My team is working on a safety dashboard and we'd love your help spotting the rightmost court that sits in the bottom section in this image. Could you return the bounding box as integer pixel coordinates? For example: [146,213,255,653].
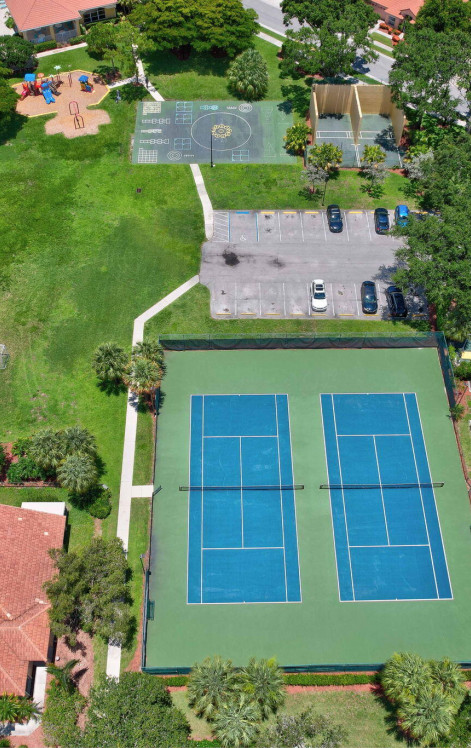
[320,392,453,602]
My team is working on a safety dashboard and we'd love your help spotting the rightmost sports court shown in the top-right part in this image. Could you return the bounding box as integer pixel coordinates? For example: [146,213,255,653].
[310,84,405,167]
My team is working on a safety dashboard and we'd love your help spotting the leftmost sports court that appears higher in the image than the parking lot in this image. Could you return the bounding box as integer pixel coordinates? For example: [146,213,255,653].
[132,102,297,163]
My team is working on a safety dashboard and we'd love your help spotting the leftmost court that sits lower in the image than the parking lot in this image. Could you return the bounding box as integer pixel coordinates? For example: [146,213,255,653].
[180,394,304,604]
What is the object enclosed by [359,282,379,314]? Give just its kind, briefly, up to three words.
car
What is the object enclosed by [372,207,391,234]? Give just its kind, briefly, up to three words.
car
